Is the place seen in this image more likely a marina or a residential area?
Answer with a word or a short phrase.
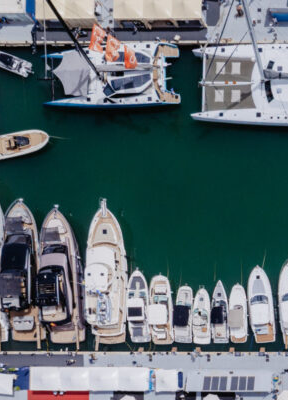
marina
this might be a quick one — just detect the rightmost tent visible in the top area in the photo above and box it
[173,0,208,29]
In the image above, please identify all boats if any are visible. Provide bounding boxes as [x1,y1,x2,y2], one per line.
[225,285,253,355]
[145,249,177,357]
[0,0,183,109]
[124,240,155,355]
[188,263,214,355]
[0,51,36,79]
[190,0,288,129]
[275,262,288,361]
[0,170,52,366]
[36,188,94,365]
[0,130,66,163]
[82,165,134,364]
[169,265,198,356]
[208,259,231,355]
[246,238,280,354]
